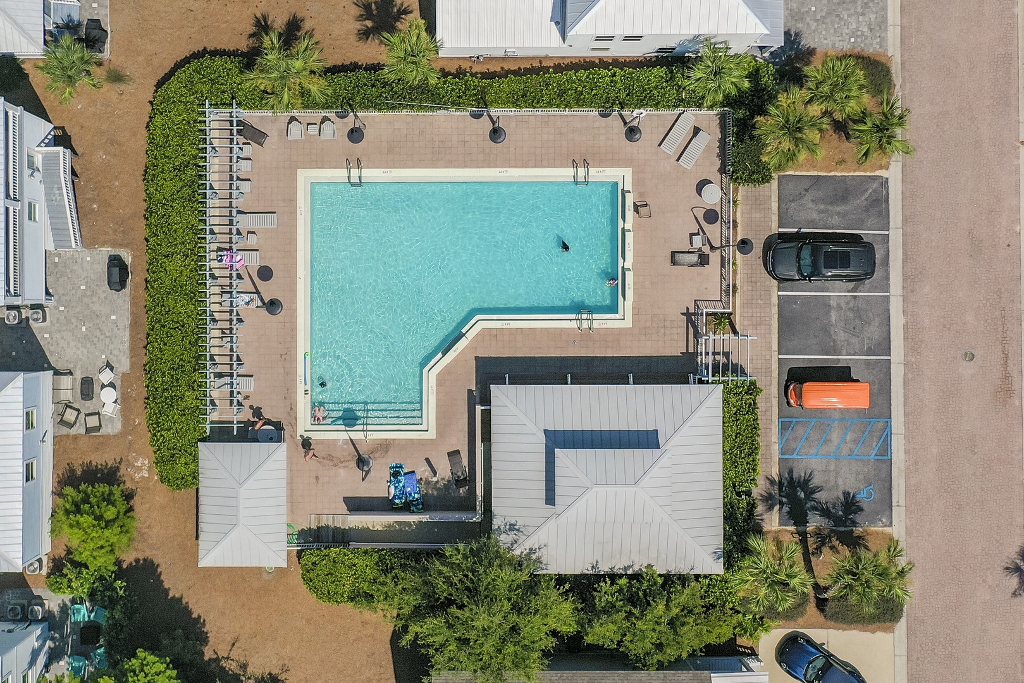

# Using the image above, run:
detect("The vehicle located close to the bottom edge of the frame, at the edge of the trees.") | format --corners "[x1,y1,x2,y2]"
[775,634,870,683]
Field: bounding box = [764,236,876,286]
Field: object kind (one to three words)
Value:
car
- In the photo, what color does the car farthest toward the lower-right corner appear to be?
blue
